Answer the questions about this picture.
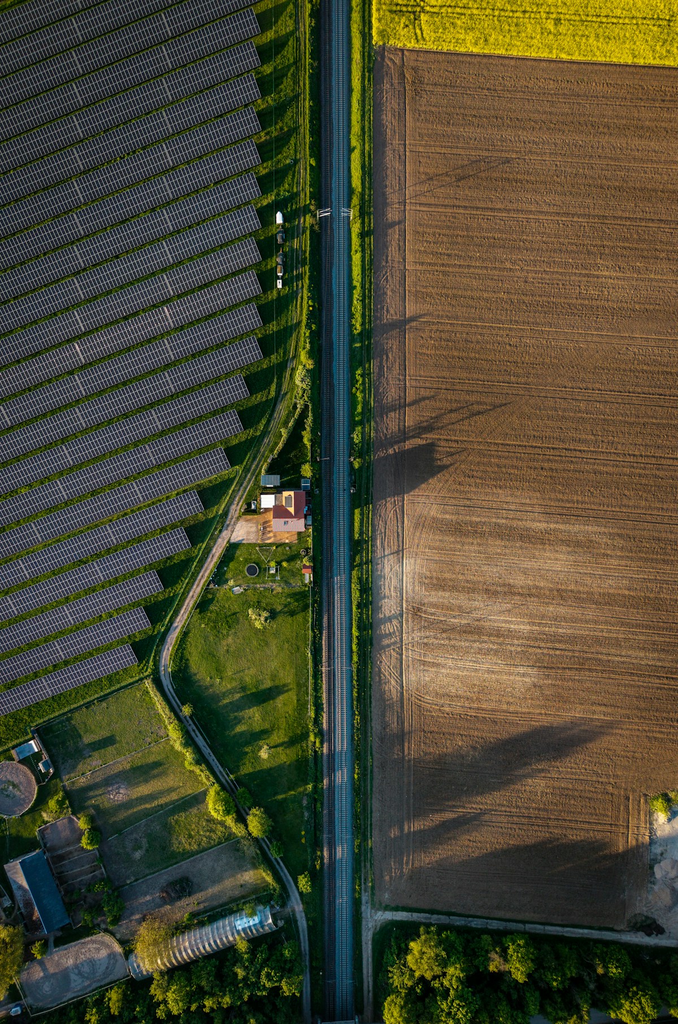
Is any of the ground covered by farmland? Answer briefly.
Yes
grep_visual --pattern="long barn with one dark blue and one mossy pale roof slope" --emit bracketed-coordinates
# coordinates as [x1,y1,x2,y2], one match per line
[5,845,73,935]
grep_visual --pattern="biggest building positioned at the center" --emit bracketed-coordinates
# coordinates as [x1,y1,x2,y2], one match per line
[272,491,306,532]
